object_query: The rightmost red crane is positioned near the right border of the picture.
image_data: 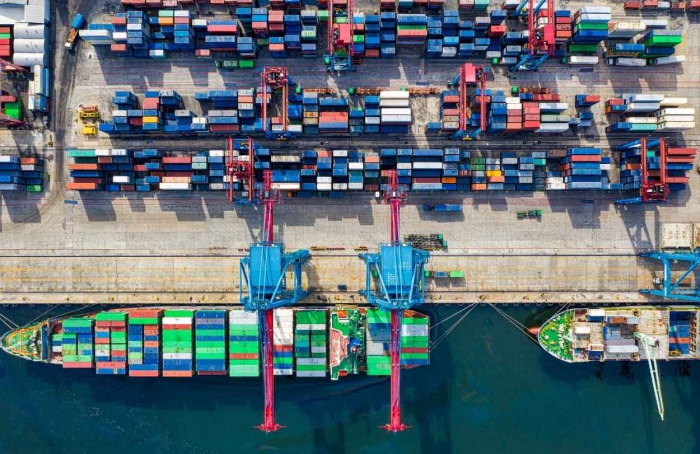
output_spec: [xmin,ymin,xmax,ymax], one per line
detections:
[611,137,669,206]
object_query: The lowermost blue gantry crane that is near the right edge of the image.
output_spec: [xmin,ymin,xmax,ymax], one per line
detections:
[640,253,700,307]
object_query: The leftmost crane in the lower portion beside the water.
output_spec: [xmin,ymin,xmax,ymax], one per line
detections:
[239,171,311,436]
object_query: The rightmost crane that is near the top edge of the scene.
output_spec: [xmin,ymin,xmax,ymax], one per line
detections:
[508,0,555,72]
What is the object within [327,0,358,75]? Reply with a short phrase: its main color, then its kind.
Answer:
red crane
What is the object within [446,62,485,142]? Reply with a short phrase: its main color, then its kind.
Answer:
red crane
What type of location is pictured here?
port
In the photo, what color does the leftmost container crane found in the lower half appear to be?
blue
